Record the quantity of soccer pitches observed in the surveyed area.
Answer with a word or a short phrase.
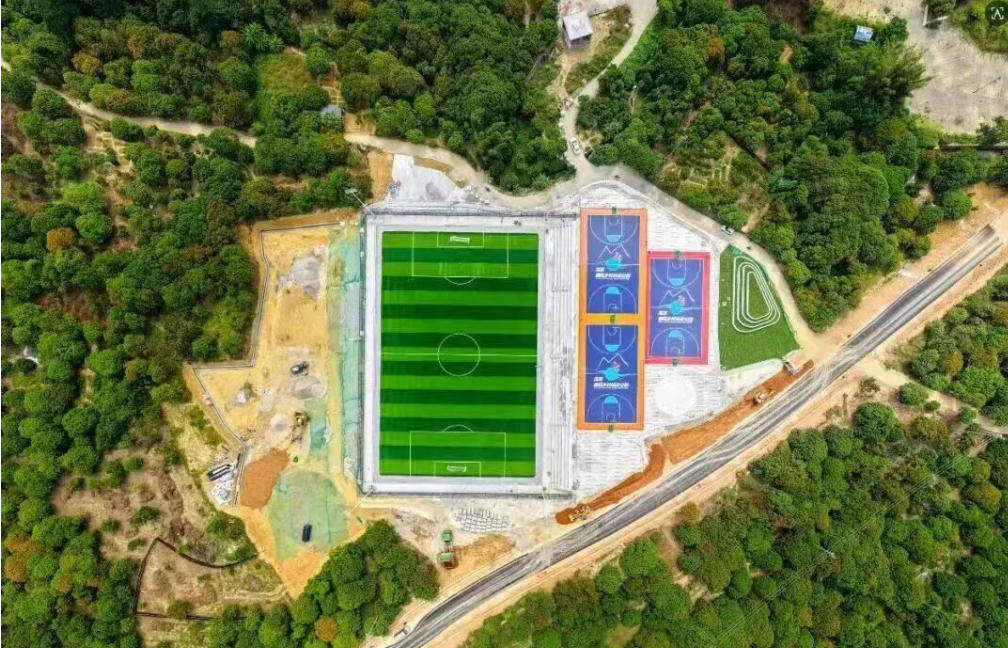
one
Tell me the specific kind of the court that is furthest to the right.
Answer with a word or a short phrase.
basketball court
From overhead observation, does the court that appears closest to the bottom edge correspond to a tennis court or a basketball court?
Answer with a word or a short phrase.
basketball court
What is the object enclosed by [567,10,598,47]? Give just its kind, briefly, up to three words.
house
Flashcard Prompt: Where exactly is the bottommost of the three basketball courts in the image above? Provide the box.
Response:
[578,319,646,430]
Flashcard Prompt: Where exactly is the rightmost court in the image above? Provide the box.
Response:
[646,252,710,364]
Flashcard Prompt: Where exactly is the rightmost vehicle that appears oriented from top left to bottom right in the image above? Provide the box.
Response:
[720,224,736,236]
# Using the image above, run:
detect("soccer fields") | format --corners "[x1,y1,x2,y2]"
[380,231,537,476]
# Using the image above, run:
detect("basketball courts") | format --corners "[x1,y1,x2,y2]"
[646,252,710,364]
[578,319,646,430]
[579,208,648,319]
